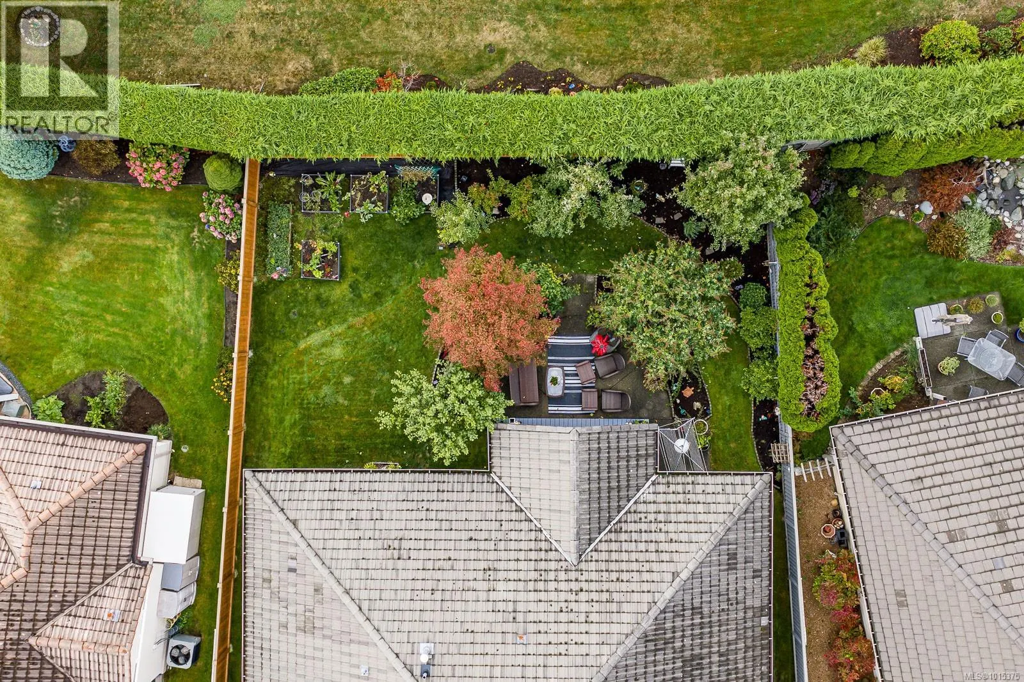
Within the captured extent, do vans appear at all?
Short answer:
No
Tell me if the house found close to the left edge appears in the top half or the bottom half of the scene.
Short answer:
bottom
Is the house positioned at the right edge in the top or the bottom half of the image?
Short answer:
bottom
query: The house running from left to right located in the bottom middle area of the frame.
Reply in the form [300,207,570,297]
[242,424,774,682]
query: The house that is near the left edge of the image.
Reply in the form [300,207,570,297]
[0,416,169,682]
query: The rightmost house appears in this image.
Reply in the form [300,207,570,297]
[826,387,1024,682]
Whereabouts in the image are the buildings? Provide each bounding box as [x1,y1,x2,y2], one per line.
[826,387,1024,682]
[242,424,774,682]
[0,416,169,682]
